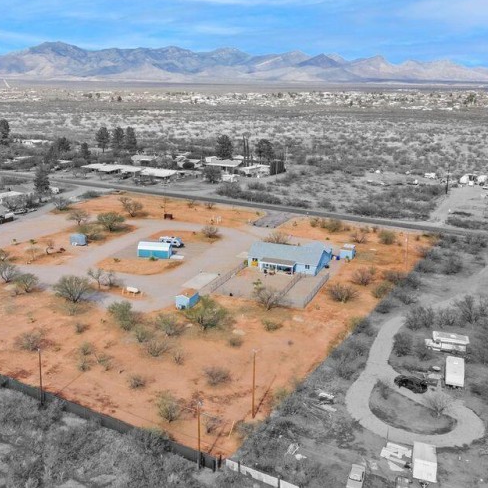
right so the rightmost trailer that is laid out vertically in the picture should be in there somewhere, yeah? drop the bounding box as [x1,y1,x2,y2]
[444,356,464,402]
